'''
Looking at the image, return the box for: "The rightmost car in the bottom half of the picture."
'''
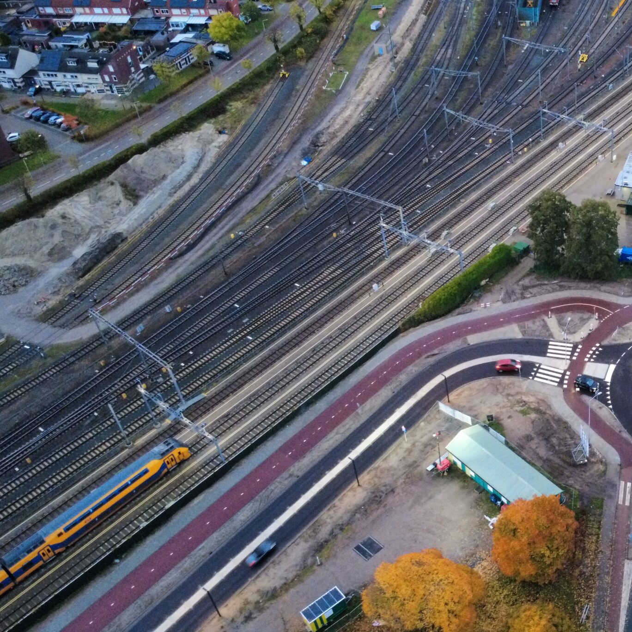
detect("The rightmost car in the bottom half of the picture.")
[573,374,601,394]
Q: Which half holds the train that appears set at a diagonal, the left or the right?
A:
left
